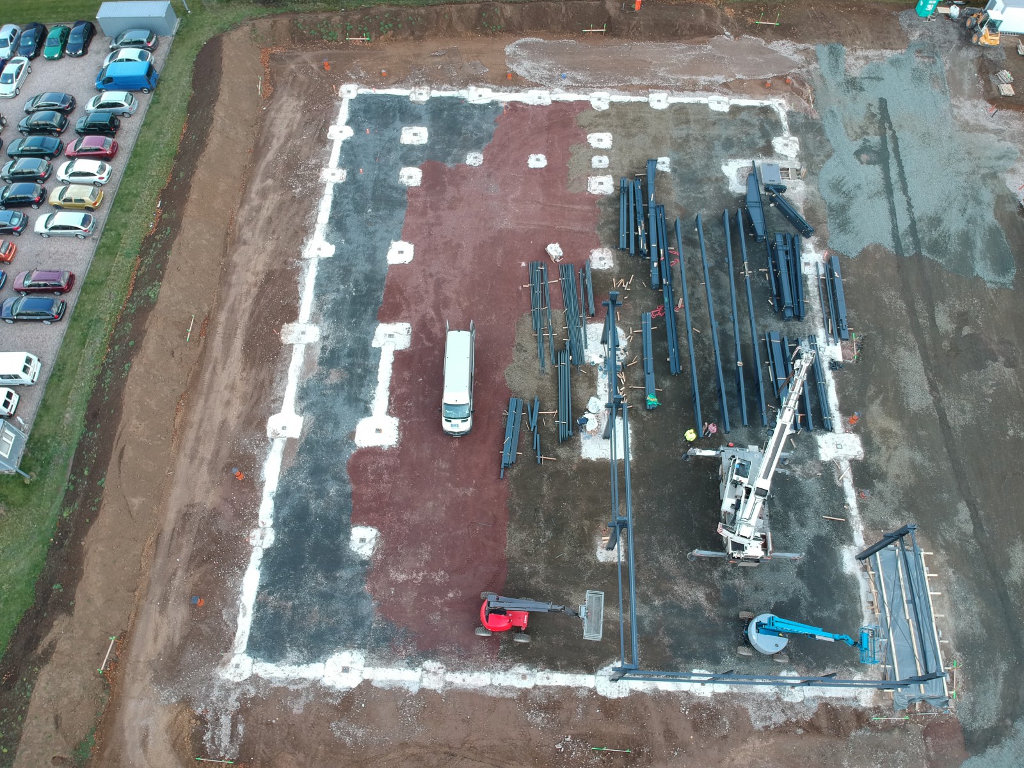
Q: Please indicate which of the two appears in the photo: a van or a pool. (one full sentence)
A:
It is a van that can be seen here.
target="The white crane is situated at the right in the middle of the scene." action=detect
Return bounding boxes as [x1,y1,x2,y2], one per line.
[681,344,821,577]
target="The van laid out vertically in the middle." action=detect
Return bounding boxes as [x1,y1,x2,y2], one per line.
[439,314,478,426]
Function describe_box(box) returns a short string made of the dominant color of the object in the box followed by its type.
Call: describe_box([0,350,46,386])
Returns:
white van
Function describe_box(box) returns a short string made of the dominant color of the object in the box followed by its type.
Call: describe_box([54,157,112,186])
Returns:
white car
